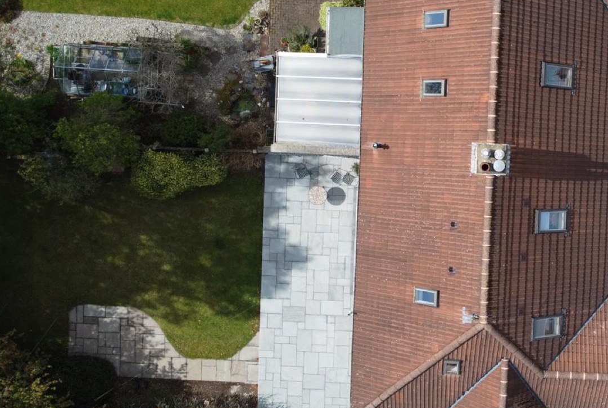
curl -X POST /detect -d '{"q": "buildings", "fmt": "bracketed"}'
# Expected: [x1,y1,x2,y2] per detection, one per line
[53,43,159,98]
[346,0,608,408]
